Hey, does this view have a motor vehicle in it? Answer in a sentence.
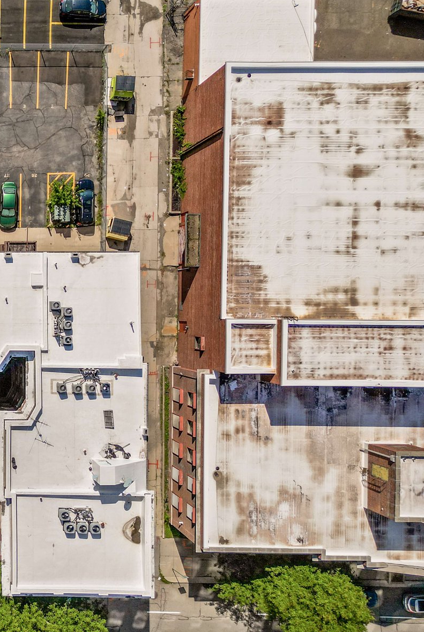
Yes, a motor vehicle is visible in the scene.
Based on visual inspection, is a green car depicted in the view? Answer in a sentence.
Yes, a green car can be made out from above.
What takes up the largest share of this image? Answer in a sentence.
The bulk of the photo consists of buildings.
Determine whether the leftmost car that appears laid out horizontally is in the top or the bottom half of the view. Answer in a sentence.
Seen from above, the leftmost car that appears laid out horizontally lies in the top half of the view.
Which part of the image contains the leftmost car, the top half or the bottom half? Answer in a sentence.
The leftmost car sits in the top half of the picture.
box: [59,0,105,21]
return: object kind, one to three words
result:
car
